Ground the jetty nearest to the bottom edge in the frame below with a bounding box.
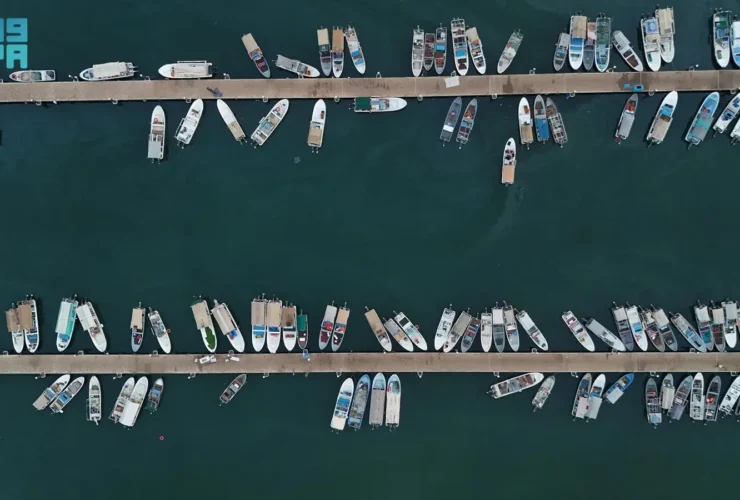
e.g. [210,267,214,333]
[0,348,740,379]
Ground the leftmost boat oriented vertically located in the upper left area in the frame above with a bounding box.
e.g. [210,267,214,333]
[147,100,165,165]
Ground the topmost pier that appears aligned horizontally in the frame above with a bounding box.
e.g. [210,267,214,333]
[0,66,740,106]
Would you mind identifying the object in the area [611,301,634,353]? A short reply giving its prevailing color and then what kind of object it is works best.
gray boat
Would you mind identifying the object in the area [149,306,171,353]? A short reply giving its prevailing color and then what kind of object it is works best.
white boat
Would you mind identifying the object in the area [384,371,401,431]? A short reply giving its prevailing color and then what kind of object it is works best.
white boat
